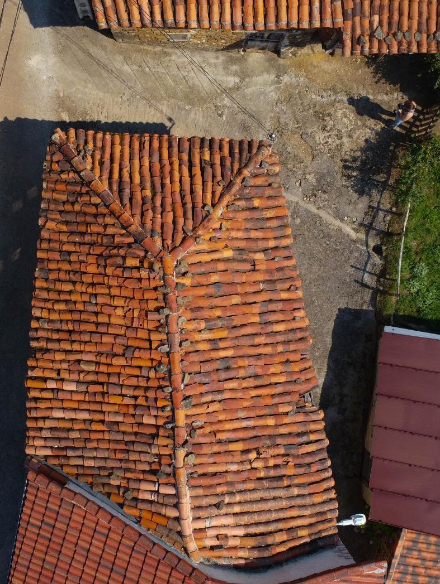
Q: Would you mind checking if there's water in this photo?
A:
No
